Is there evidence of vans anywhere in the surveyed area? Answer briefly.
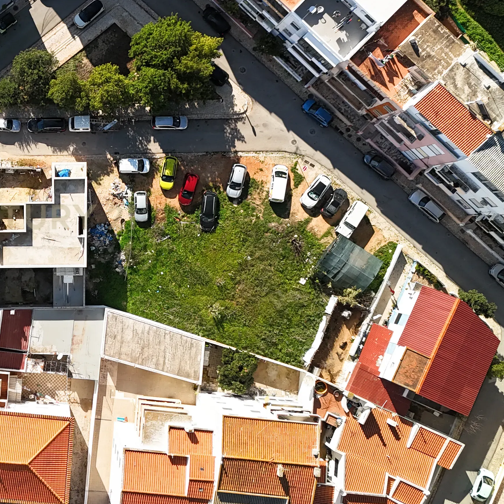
Yes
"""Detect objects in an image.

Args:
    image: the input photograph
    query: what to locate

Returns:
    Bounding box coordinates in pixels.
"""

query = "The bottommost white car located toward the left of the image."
[133,191,151,222]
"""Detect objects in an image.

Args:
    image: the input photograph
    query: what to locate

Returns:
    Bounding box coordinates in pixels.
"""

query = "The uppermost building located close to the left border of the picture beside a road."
[0,162,87,309]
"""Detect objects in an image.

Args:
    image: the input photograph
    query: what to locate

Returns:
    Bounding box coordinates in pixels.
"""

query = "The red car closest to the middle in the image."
[177,171,200,207]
